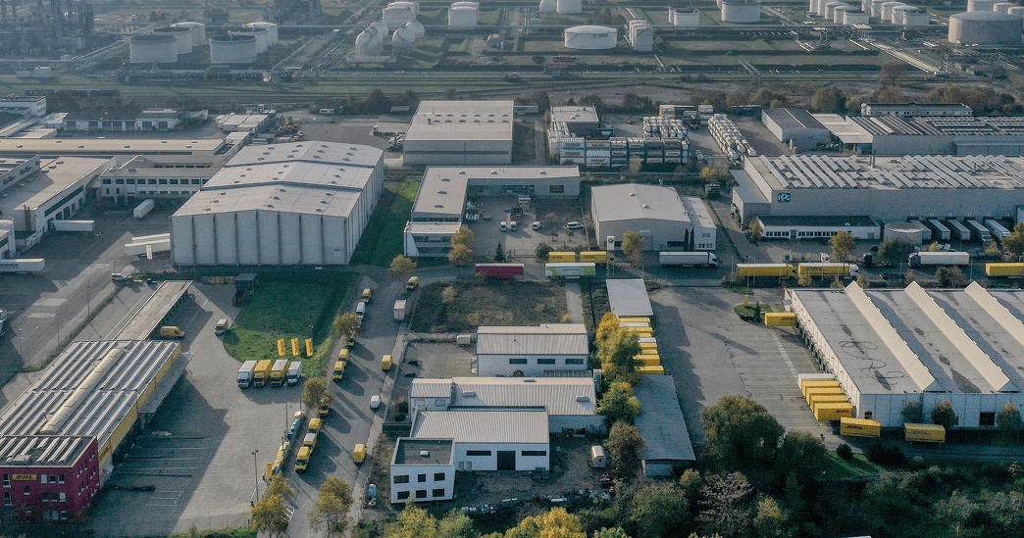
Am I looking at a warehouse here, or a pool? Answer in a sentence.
I can see a warehouse in this picture.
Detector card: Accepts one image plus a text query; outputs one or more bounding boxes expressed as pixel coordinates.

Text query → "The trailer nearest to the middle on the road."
[475,261,525,278]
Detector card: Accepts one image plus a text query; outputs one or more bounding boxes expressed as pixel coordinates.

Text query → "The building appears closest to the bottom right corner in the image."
[785,281,1024,429]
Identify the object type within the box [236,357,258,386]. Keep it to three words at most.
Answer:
truck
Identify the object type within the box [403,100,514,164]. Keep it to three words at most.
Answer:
building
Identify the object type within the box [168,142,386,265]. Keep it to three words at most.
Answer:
warehouse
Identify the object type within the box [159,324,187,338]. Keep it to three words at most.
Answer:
vehicle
